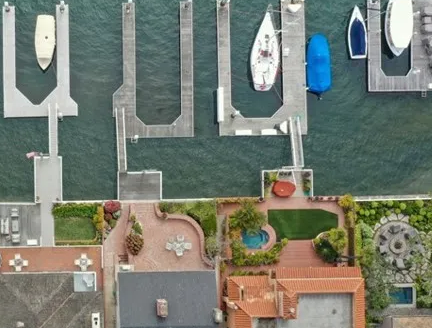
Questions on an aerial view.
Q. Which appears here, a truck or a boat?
boat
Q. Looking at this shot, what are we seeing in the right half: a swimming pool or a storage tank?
swimming pool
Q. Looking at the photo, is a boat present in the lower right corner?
No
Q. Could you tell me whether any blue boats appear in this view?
Yes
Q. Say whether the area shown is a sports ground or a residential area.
residential area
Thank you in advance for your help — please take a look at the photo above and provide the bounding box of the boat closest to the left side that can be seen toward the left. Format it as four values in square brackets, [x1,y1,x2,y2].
[34,13,57,72]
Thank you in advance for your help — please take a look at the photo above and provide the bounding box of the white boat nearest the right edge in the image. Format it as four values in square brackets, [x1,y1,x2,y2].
[385,0,415,57]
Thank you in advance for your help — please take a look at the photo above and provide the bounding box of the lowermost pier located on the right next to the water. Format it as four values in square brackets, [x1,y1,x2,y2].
[258,169,316,201]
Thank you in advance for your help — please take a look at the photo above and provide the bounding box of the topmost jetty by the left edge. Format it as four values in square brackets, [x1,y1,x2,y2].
[2,0,78,118]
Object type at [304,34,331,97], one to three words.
boat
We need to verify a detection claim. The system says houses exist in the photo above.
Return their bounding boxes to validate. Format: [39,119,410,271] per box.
[0,272,106,328]
[117,271,222,328]
[224,267,365,328]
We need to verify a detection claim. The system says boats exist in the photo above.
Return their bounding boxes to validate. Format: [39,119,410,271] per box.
[34,13,57,72]
[304,34,331,97]
[348,6,367,60]
[234,4,299,100]
[385,0,415,57]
